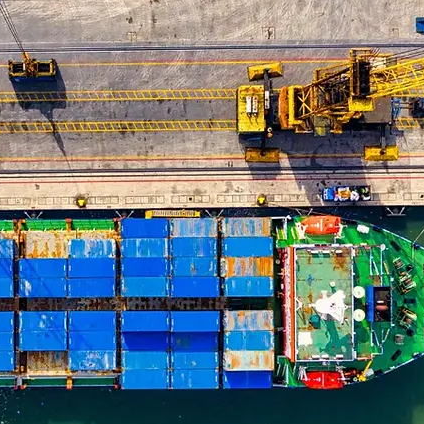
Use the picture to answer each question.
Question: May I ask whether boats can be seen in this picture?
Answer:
Yes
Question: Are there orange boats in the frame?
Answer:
Yes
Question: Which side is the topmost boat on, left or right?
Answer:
right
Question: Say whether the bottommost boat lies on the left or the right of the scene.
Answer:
right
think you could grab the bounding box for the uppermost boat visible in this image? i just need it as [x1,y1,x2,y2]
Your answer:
[297,214,343,235]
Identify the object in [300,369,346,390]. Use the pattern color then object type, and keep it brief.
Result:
red boat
